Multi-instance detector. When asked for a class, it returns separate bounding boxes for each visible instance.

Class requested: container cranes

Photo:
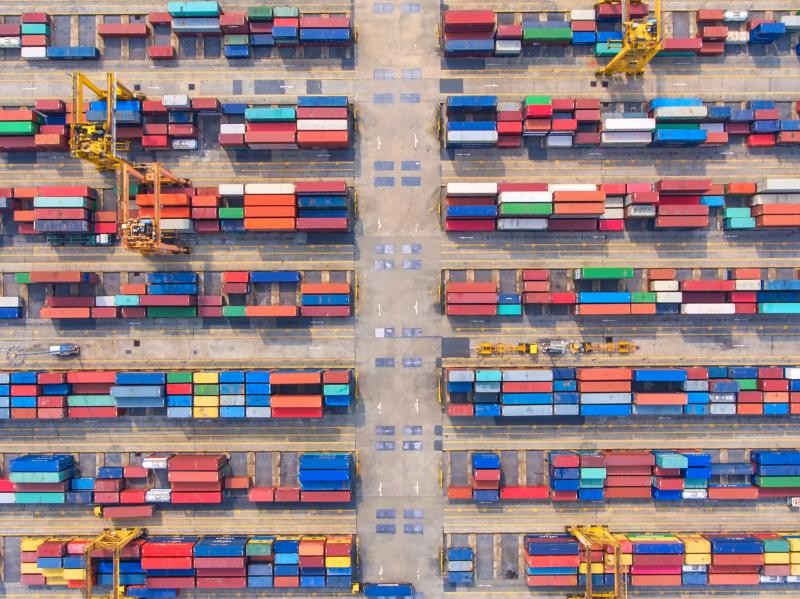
[71,73,146,169]
[596,0,661,76]
[84,527,154,599]
[561,524,623,599]
[118,163,189,252]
